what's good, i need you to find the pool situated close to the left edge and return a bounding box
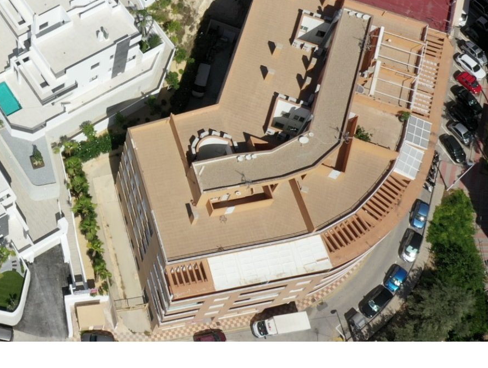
[0,78,25,119]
